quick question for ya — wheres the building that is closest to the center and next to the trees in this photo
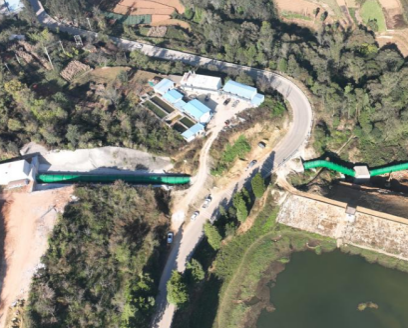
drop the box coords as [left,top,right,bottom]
[179,118,209,143]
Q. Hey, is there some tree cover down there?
Yes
